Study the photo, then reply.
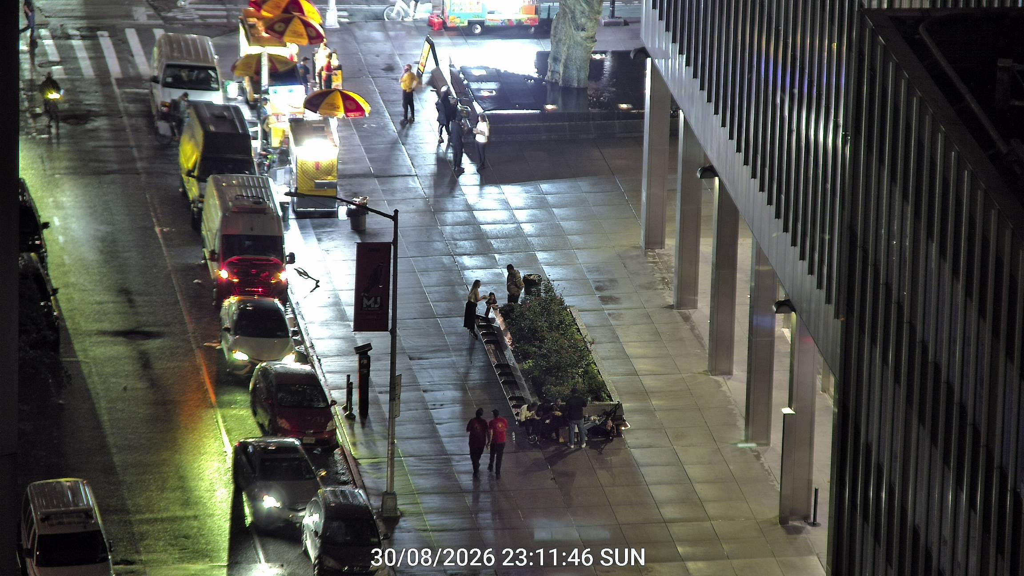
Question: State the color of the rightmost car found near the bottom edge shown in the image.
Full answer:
The rightmost car found near the bottom edge is black.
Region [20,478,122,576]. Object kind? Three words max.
van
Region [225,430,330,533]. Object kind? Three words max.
car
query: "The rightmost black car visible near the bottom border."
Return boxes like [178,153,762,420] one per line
[296,482,399,576]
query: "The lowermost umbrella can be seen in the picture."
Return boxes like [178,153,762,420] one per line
[306,88,371,137]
